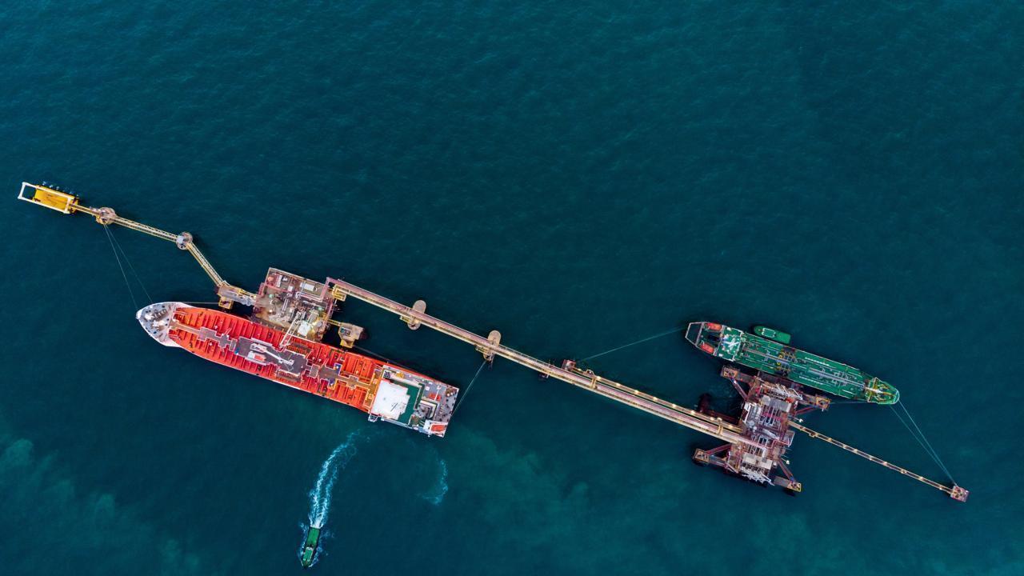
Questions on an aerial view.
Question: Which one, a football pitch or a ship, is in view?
ship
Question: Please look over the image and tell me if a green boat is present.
Yes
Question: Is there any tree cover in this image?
No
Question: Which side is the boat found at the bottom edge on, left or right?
left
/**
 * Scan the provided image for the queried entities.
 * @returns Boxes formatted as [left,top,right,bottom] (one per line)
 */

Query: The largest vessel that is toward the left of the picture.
[135,301,459,437]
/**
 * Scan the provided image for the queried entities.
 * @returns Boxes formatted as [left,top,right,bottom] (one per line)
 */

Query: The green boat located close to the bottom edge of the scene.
[302,527,322,569]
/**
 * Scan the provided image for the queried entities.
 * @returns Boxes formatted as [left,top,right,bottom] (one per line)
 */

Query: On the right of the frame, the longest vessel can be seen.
[685,322,900,404]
